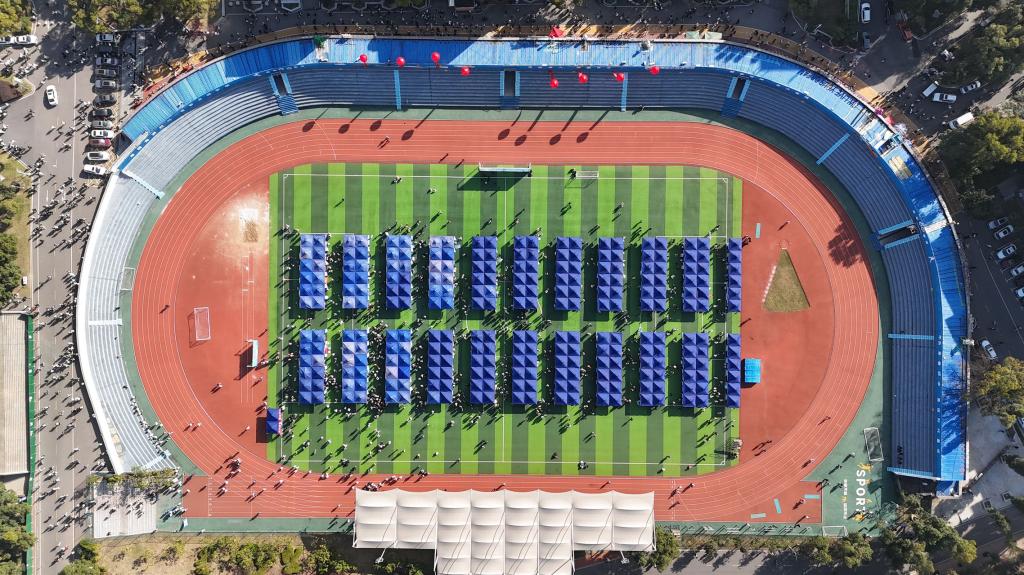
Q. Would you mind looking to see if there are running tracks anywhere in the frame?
Yes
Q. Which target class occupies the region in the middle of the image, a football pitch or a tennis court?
football pitch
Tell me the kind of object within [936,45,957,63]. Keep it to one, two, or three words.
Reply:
vehicle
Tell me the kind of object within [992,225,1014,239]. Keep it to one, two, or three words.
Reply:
car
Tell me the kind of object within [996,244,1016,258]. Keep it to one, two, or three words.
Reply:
car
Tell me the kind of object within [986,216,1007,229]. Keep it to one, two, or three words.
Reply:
vehicle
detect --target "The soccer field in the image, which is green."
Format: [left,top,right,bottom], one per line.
[269,163,743,476]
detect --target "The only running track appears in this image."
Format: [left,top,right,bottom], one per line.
[130,119,879,522]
